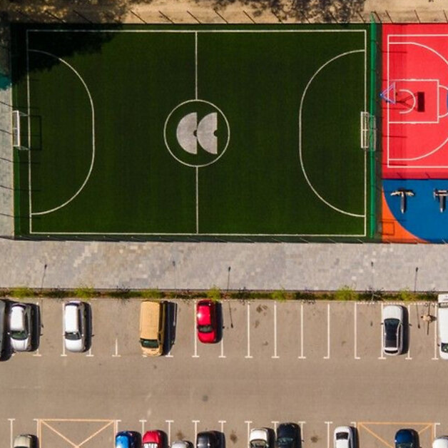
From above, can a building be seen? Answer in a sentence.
No, I can see no building in this picture.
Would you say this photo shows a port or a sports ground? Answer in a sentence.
This looks like a sports ground.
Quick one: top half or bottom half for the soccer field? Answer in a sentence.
The soccer field sits in the top half of the picture.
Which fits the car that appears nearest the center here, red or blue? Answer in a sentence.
In this view, the car that appears nearest the center is red.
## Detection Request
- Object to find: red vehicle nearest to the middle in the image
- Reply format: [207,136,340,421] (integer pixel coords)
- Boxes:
[195,300,217,342]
